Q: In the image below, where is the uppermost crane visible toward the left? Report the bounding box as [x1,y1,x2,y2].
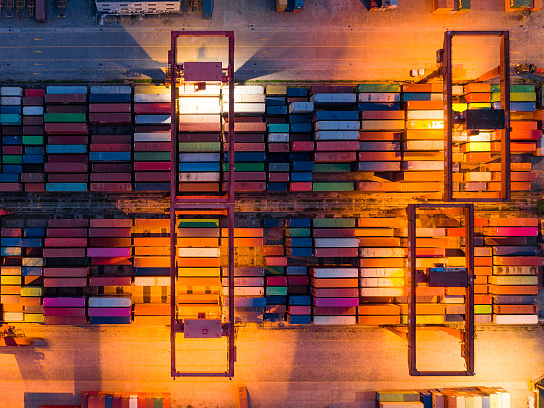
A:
[160,31,242,202]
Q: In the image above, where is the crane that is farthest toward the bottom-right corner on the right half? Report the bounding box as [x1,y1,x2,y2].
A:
[374,204,476,376]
